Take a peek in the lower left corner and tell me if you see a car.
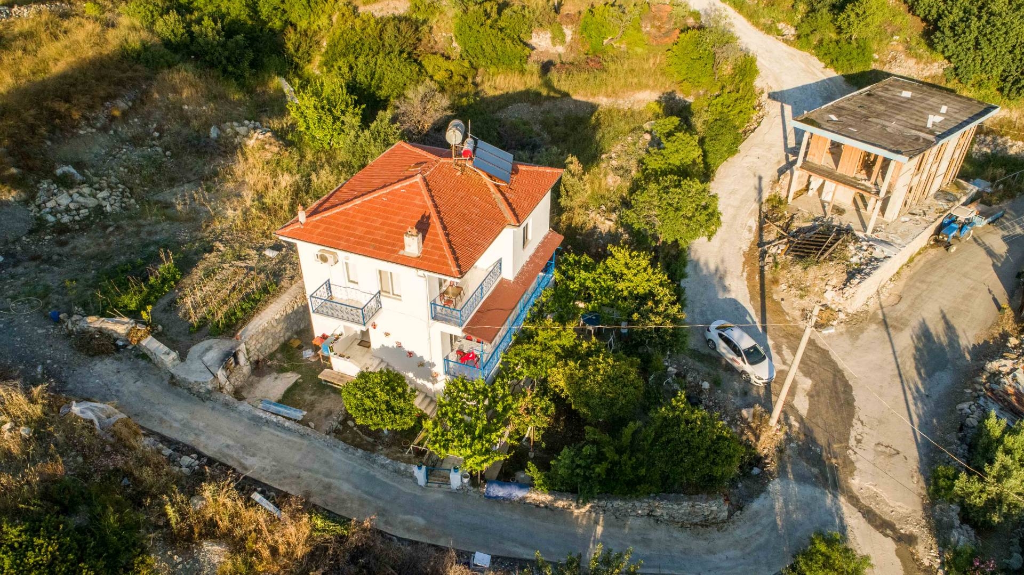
No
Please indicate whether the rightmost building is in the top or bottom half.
top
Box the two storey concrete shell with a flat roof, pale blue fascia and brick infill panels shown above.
[786,79,1001,242]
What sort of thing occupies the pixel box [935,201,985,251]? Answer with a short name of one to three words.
work vehicle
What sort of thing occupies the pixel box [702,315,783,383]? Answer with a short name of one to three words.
car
